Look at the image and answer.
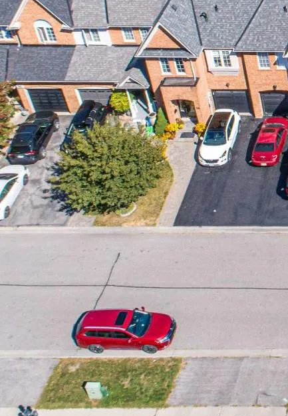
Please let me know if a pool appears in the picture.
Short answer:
No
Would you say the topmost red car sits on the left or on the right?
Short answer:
right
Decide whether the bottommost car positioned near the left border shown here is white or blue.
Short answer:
white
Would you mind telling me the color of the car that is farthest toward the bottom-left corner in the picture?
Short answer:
red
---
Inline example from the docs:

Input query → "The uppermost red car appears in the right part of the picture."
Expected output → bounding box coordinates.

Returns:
[250,114,288,165]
